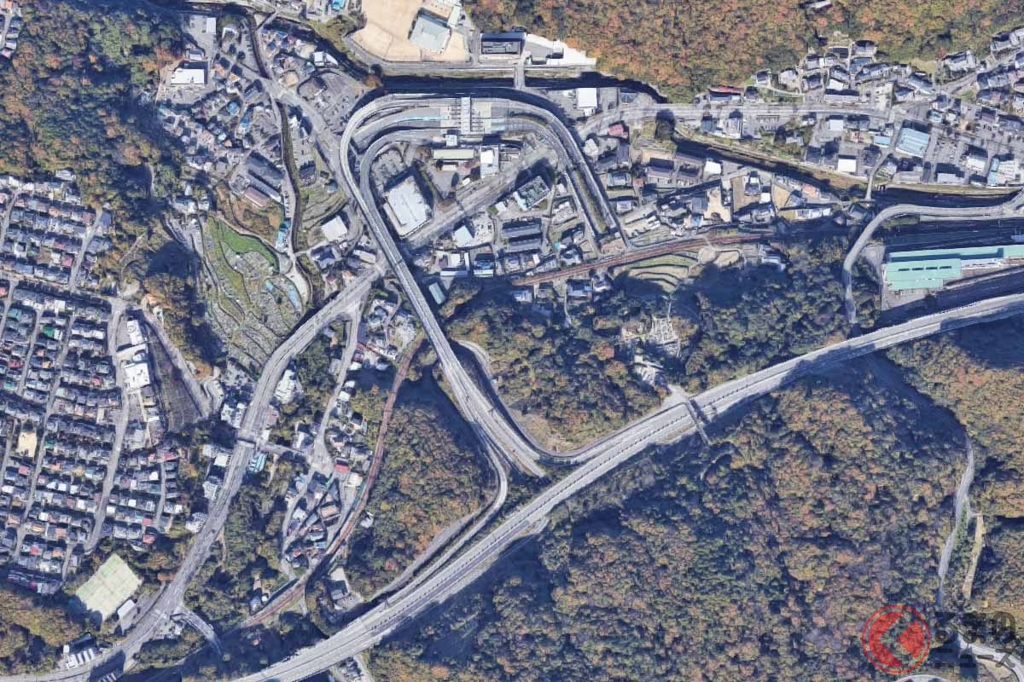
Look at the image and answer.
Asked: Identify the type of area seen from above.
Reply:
residential area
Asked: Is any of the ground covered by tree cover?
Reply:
Yes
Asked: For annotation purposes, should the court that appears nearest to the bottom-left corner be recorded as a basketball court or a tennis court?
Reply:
tennis court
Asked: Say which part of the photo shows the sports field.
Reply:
top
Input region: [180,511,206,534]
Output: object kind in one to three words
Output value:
house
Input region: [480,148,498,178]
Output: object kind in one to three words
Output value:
building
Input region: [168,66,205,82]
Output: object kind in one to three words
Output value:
building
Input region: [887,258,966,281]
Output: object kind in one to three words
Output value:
shed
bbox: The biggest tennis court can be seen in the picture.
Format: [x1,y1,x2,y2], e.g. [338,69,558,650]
[76,554,142,623]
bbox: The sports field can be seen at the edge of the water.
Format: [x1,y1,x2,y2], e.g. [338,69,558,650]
[353,0,468,62]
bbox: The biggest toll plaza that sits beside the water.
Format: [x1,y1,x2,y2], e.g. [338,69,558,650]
[425,95,506,136]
